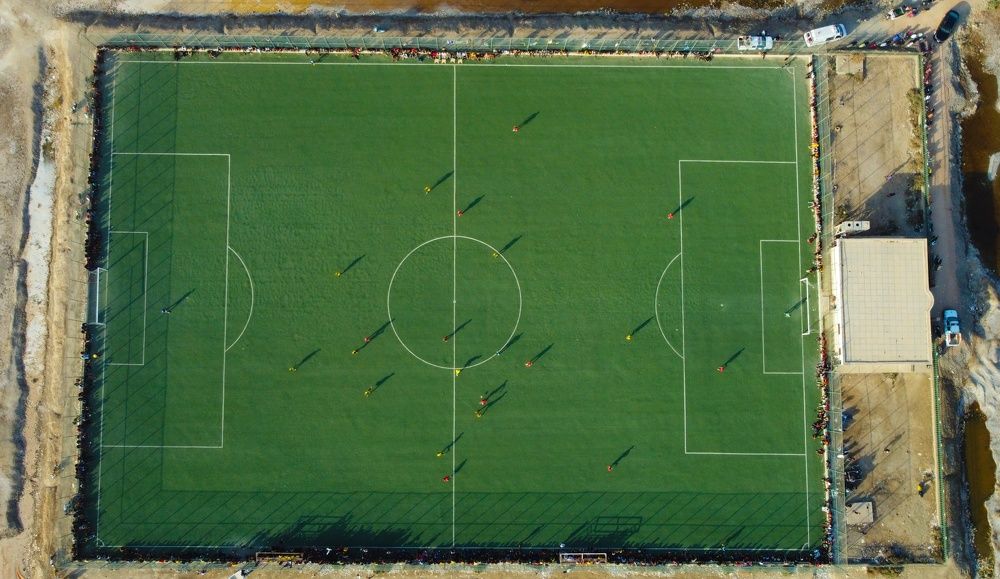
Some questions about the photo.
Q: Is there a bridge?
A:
No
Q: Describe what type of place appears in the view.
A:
sports ground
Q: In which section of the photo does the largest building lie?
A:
right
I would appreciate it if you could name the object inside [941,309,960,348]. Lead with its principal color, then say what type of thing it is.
blue vehicle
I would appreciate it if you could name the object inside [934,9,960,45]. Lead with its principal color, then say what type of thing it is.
black car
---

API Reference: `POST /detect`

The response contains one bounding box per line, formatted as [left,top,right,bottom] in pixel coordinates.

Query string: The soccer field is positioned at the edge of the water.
[78,51,827,558]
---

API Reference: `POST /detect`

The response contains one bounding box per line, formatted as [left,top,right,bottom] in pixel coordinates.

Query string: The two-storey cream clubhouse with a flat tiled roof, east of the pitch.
[824,221,936,367]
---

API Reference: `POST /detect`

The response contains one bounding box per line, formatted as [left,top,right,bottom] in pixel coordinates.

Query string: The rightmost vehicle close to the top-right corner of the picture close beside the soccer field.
[802,26,844,49]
